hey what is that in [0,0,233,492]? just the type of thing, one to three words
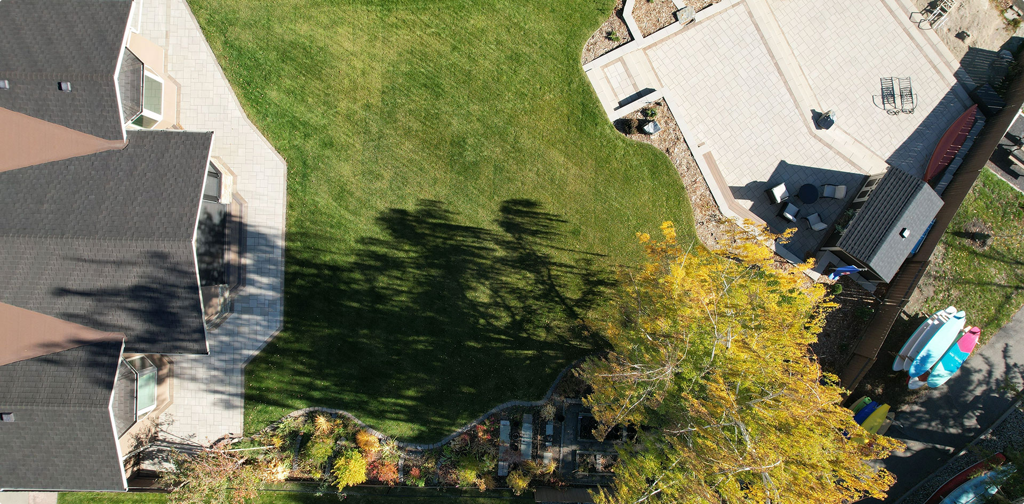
house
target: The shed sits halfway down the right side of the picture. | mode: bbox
[818,165,945,283]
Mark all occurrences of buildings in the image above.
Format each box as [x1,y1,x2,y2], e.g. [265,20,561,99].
[818,165,945,283]
[0,0,233,492]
